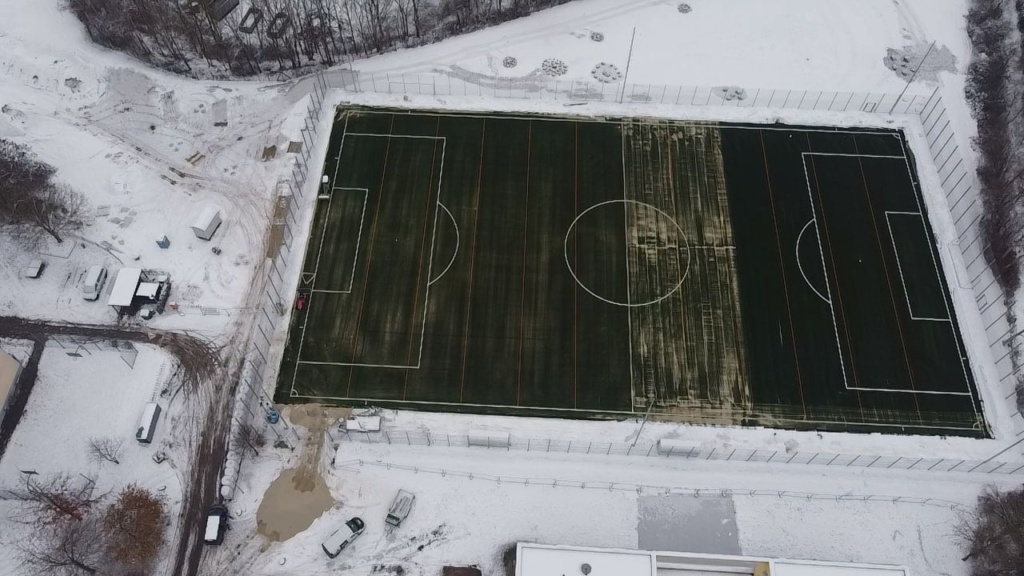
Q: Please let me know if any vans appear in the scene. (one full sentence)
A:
Yes, a van can be made out from above.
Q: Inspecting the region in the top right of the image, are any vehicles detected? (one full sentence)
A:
No, I see no vehicle in the top right of the image.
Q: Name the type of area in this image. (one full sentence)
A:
What you see here is a sports ground.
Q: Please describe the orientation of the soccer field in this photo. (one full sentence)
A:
The soccer field has been laid out from side to side relative to the frame.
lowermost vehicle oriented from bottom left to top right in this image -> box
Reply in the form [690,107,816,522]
[320,516,365,561]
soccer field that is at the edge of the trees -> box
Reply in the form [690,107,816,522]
[273,106,989,438]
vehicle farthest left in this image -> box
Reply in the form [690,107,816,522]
[84,266,107,301]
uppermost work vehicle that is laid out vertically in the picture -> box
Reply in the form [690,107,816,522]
[320,174,333,201]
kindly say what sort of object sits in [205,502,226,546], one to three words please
vehicle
